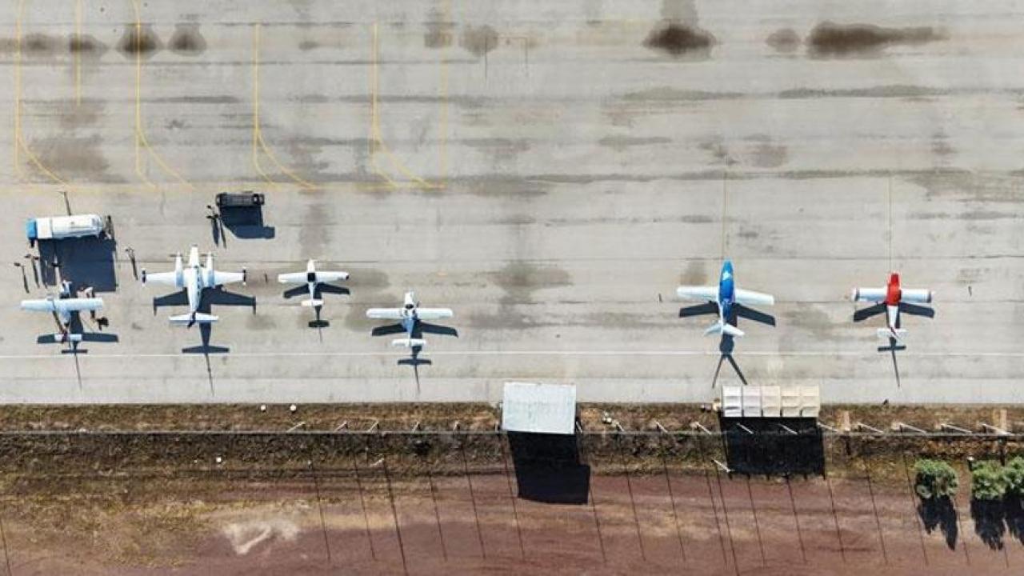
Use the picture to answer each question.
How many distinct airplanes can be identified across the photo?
six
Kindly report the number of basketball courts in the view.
0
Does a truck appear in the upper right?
No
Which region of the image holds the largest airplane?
left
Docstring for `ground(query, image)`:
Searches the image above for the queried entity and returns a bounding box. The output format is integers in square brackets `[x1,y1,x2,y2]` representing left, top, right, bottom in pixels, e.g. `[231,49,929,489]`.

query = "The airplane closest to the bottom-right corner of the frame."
[855,269,934,335]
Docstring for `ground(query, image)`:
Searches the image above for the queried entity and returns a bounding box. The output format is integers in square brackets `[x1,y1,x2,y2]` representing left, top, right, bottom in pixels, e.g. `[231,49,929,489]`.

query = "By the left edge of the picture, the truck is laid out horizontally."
[27,216,110,245]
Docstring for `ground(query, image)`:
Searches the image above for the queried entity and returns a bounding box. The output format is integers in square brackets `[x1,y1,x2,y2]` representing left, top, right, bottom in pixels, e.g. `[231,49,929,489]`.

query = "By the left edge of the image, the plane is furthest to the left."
[18,277,107,346]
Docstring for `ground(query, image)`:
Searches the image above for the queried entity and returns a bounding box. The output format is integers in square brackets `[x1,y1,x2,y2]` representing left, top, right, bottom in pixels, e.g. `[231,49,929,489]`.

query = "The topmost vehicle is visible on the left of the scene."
[218,189,264,208]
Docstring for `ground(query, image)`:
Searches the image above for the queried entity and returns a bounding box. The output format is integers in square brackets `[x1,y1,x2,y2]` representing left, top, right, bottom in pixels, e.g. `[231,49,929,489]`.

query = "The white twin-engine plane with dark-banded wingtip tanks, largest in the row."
[140,245,247,329]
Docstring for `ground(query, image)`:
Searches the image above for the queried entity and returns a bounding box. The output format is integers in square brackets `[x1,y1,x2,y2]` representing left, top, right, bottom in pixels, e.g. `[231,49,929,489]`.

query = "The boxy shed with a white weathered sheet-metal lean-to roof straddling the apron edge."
[502,381,576,434]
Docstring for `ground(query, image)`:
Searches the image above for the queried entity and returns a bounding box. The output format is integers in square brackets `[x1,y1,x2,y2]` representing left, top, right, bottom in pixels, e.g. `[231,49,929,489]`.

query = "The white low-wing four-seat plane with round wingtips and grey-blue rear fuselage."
[366,289,453,348]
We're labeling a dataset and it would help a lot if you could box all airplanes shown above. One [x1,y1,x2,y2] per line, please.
[855,269,934,335]
[366,289,453,348]
[277,257,348,309]
[140,245,247,329]
[18,277,107,346]
[678,260,774,338]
